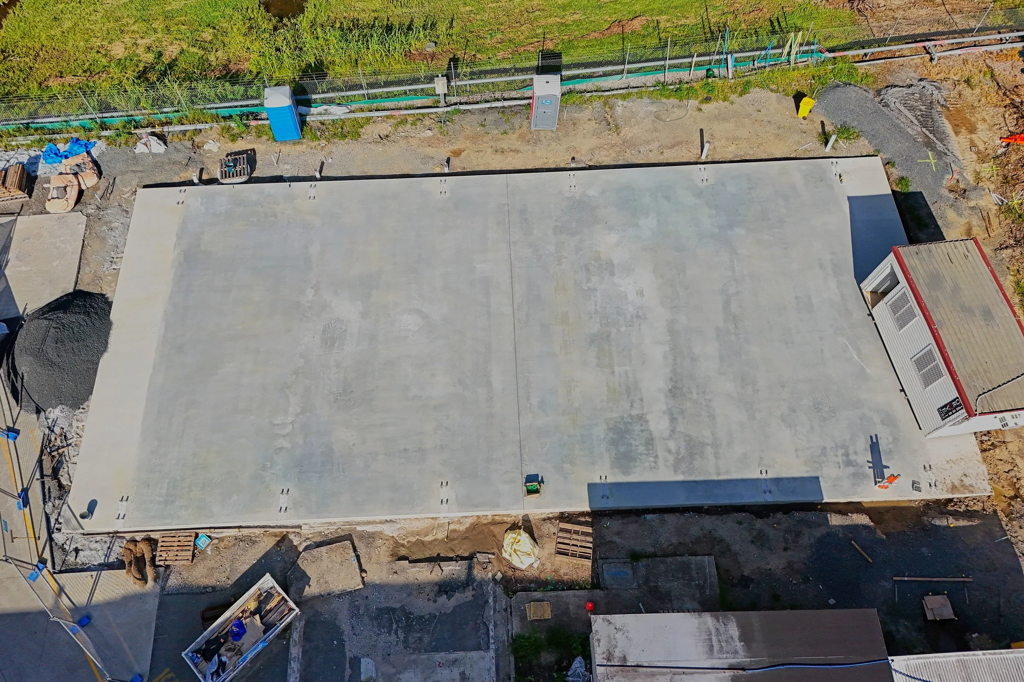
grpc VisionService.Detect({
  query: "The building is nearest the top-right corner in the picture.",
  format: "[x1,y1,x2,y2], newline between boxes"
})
[859,233,1024,438]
